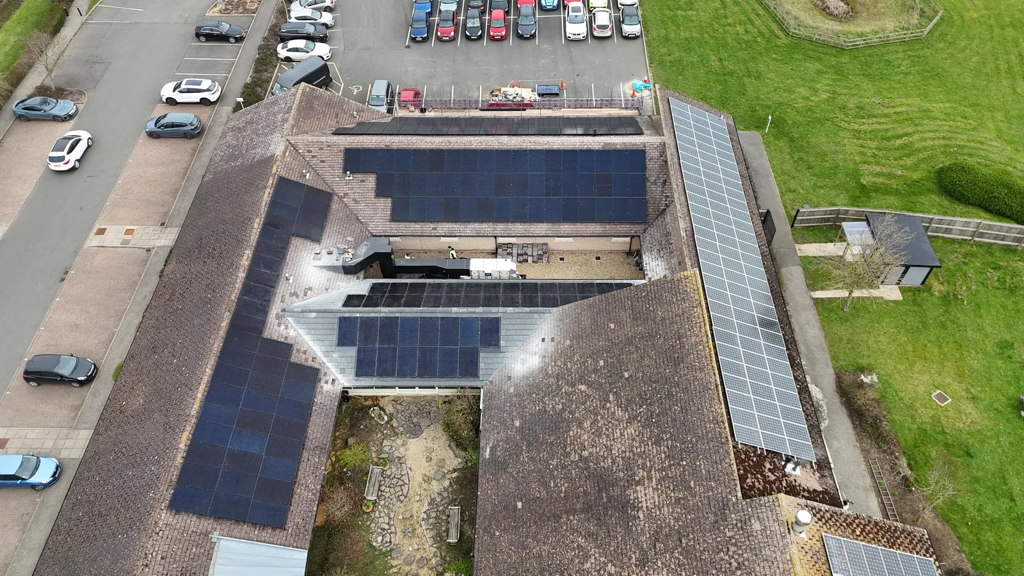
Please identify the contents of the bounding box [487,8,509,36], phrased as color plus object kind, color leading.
red car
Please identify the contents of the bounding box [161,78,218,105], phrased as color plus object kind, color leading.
white car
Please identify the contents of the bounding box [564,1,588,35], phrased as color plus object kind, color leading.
white car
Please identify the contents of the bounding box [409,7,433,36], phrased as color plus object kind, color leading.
blue car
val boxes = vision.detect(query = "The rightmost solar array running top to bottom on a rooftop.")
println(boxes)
[670,96,815,466]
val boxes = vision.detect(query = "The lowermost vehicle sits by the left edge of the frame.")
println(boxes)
[0,447,57,489]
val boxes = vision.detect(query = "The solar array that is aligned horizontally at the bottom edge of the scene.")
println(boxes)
[823,533,941,576]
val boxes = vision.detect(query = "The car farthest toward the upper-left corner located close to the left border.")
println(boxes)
[9,95,74,121]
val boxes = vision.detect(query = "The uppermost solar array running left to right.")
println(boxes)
[333,115,643,133]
